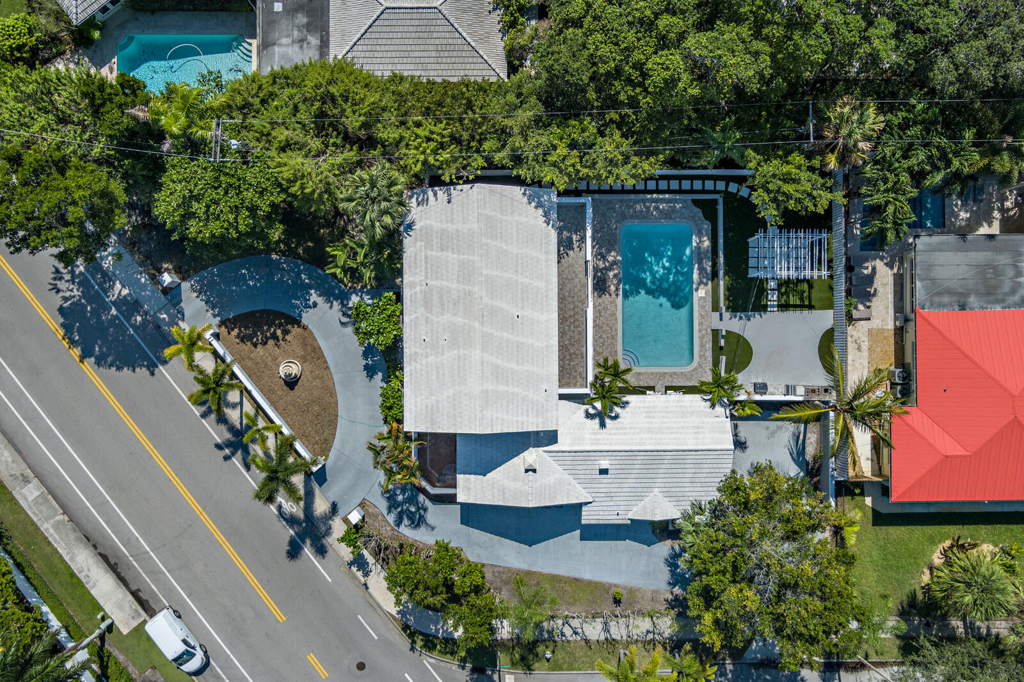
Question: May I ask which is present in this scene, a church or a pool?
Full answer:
This aerial view contains a pool.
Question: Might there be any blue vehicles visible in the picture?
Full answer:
No, there isn't any blue vehicle down there.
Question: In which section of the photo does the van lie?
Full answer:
The van appears toward the bottom left of the photo.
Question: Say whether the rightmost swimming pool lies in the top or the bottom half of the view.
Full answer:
It is in the top half that the rightmost swimming pool appears.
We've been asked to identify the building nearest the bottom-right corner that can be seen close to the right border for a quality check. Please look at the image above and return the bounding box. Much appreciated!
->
[881,230,1024,503]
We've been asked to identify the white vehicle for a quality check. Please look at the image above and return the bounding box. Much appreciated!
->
[145,605,208,674]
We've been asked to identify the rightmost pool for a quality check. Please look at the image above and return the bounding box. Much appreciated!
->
[902,183,945,228]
